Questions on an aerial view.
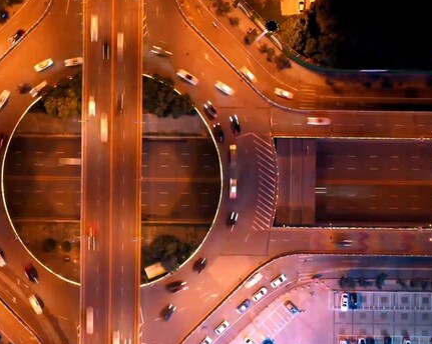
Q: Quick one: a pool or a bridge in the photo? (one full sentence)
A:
It is a bridge that can be seen here.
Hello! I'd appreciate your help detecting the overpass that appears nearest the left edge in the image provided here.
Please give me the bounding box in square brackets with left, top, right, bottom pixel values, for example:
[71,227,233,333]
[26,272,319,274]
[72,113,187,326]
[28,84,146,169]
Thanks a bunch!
[80,0,143,344]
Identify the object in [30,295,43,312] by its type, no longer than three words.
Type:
vehicle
